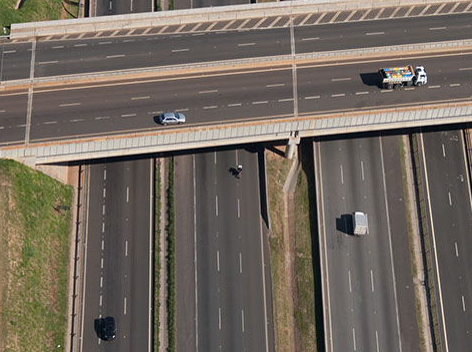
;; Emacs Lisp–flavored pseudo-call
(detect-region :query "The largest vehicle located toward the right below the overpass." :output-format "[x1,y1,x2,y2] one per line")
[352,213,367,236]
